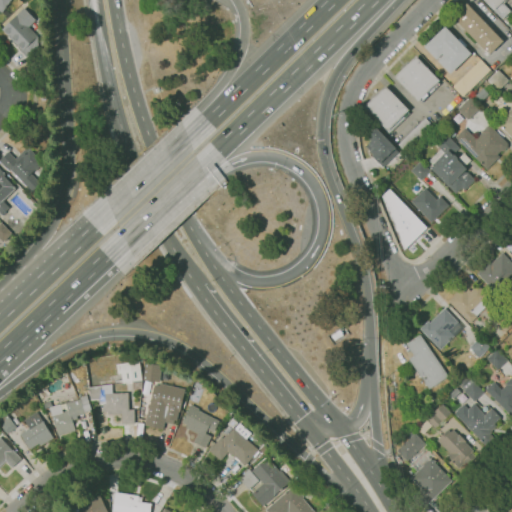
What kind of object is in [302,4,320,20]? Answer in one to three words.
vehicle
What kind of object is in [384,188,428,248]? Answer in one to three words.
building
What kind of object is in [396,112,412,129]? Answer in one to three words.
vehicle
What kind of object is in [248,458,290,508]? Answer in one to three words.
house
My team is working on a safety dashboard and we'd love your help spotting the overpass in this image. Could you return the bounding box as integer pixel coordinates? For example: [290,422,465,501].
[84,108,236,274]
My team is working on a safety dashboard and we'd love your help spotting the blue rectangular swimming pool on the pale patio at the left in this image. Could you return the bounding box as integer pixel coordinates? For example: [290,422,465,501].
[10,194,30,216]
